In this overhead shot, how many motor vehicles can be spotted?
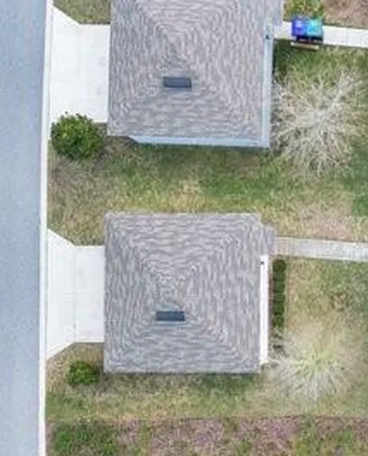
0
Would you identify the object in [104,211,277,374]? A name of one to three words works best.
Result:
building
